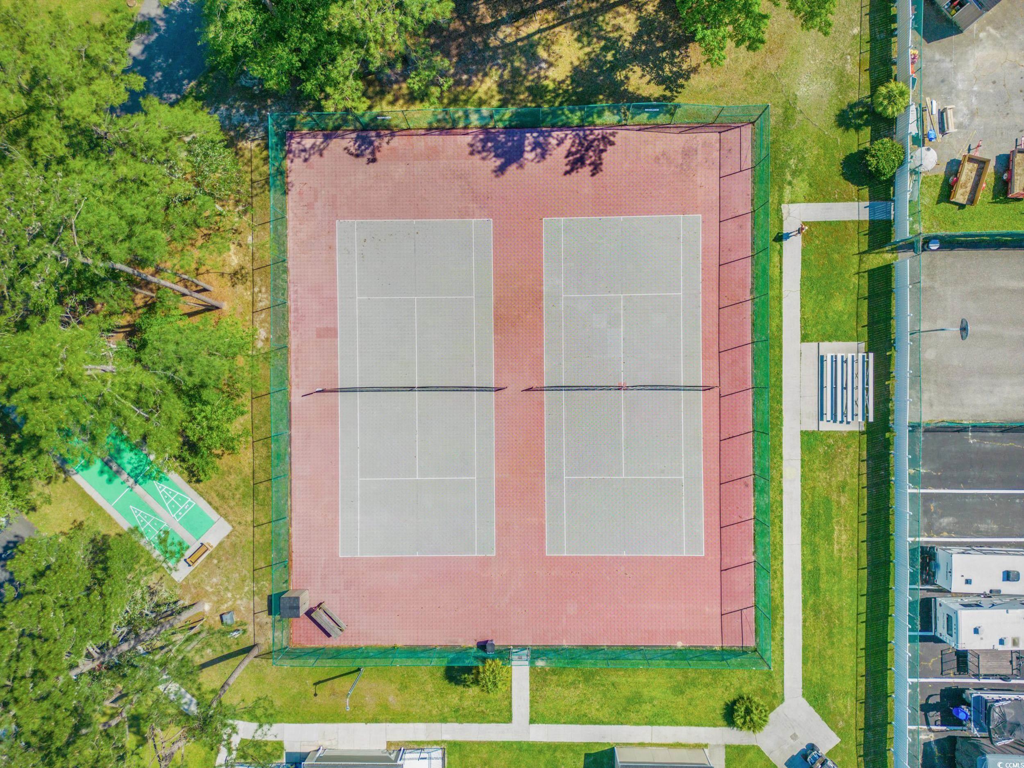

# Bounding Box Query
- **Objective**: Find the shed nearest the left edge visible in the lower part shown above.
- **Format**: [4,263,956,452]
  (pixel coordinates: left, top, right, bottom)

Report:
[277,590,309,618]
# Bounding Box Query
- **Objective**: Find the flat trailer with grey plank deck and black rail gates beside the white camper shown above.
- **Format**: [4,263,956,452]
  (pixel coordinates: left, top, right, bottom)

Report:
[956,650,1024,682]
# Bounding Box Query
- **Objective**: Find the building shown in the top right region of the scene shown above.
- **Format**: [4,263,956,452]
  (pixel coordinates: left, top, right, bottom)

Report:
[935,0,1006,32]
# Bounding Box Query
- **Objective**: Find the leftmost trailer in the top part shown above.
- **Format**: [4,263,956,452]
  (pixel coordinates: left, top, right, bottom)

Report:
[944,139,991,209]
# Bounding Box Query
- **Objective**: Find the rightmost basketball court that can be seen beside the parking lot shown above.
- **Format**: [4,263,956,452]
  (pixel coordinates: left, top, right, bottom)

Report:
[897,241,1024,423]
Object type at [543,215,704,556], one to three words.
tennis court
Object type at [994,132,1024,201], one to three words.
trailer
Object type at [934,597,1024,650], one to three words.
trailer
